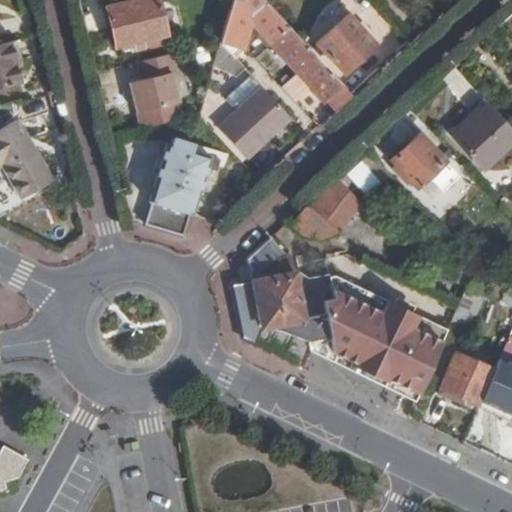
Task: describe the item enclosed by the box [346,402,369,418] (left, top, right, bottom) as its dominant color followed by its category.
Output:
gray car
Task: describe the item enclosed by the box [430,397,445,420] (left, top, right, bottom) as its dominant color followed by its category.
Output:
white car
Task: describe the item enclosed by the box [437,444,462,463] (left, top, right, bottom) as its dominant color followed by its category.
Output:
white vehicle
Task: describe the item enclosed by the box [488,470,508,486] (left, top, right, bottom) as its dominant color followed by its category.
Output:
white car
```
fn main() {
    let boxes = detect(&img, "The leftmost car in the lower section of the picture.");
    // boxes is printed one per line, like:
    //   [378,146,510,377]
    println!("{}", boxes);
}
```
[120,468,142,480]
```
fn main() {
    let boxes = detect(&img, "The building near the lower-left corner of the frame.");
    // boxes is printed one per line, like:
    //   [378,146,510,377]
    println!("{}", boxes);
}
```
[0,444,30,494]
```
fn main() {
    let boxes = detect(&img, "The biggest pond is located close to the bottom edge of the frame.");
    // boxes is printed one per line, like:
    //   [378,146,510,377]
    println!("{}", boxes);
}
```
[212,460,272,502]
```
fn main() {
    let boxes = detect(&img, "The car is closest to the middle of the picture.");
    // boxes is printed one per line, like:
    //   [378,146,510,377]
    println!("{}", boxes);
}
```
[241,230,260,249]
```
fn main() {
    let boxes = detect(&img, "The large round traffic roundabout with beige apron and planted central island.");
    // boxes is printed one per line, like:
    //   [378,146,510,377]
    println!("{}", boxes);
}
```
[36,245,218,414]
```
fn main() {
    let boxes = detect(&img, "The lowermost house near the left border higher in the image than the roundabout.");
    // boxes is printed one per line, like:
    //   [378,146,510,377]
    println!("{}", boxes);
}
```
[0,119,54,200]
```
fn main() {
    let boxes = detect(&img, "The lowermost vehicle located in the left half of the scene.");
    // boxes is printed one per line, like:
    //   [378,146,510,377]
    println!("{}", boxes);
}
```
[147,492,170,508]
